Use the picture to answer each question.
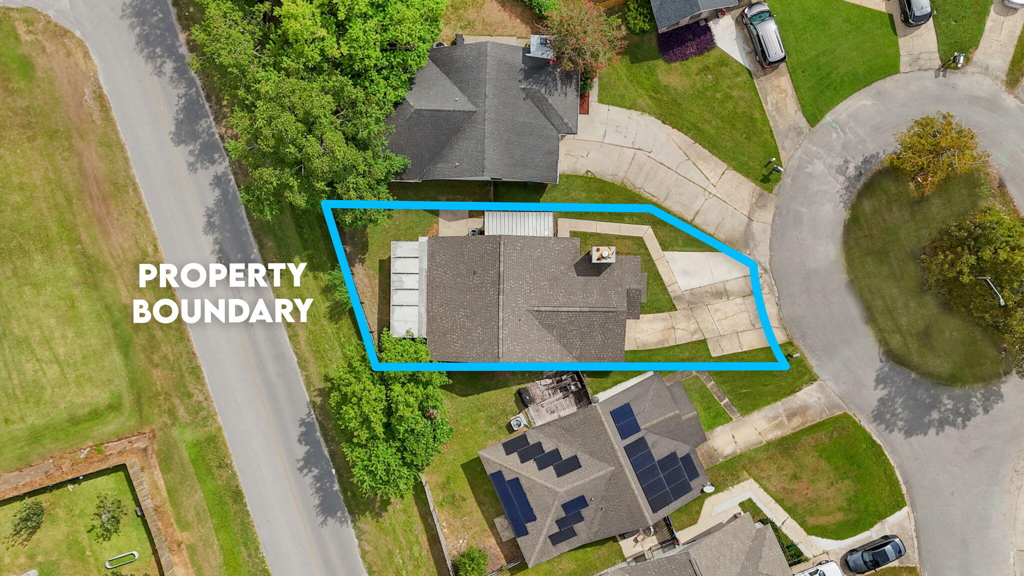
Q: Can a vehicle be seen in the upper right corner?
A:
Yes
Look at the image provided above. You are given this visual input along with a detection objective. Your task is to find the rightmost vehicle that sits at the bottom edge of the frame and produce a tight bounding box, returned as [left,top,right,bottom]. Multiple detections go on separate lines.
[840,531,908,575]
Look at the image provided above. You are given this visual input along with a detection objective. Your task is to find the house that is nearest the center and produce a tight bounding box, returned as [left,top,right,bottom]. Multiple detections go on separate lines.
[391,211,646,365]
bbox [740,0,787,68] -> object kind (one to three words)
car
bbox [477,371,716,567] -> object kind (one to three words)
house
